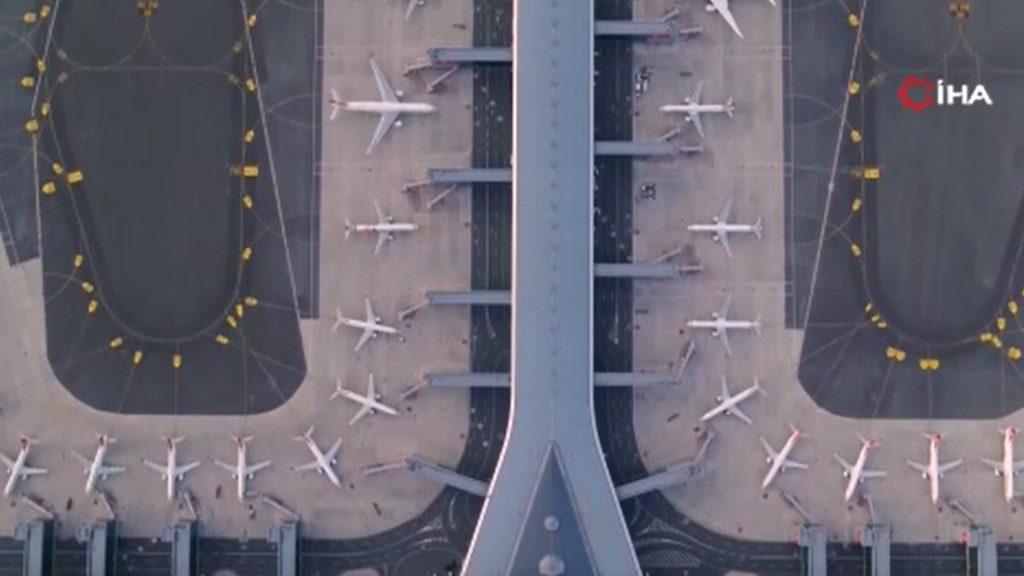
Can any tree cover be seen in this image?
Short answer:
No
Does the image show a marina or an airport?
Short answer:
airport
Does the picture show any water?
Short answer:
No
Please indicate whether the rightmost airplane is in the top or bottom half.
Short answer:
bottom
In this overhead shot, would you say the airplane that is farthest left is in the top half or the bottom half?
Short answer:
bottom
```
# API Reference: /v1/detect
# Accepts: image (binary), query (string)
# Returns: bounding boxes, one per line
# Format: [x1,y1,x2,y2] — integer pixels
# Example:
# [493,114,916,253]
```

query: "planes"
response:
[329,55,435,151]
[761,425,812,489]
[329,371,399,426]
[142,437,196,503]
[980,428,1024,504]
[294,427,342,487]
[407,0,424,15]
[837,436,889,501]
[659,76,736,137]
[333,299,399,352]
[907,433,965,504]
[708,0,746,35]
[345,199,418,257]
[73,433,122,495]
[0,435,42,497]
[687,198,763,258]
[686,294,762,355]
[700,374,769,426]
[214,436,268,503]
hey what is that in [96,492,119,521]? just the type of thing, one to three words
jet bridge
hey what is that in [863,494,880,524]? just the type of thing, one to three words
jet bridge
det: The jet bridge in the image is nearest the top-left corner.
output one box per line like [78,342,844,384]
[402,61,435,77]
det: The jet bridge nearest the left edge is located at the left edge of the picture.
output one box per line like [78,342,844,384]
[18,495,60,521]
